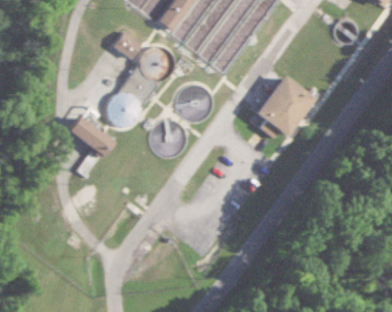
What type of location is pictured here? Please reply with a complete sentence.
What you see here is an industrial area.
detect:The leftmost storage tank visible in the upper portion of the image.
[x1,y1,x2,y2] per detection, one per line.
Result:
[106,92,142,128]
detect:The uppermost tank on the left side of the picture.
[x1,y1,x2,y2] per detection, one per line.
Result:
[138,46,172,82]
